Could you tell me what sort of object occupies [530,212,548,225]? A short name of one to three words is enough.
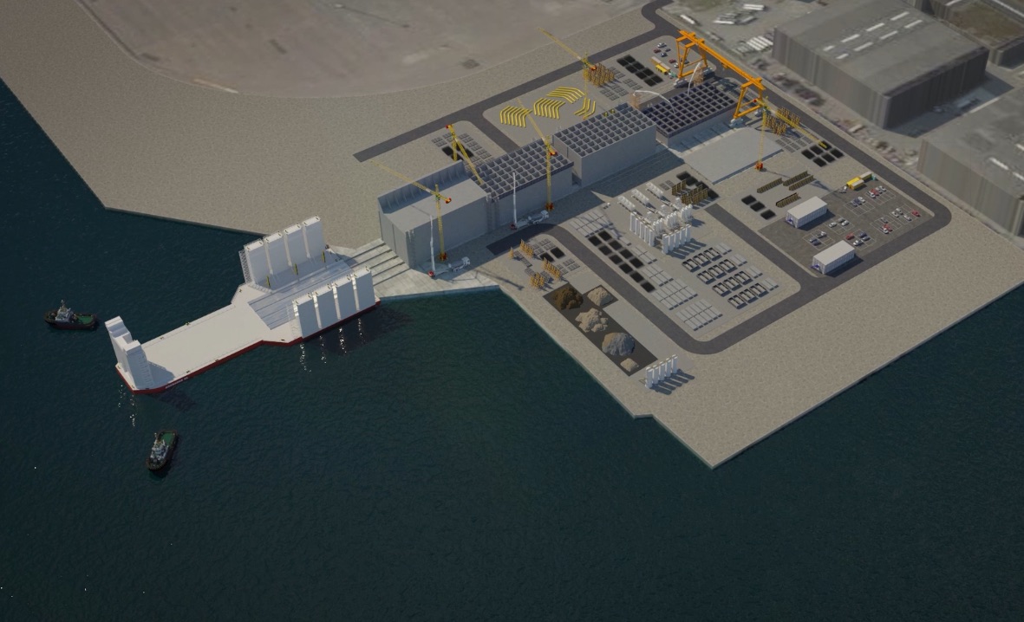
vehicle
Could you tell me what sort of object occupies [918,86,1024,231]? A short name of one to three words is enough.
building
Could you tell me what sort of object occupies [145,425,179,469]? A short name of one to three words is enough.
boat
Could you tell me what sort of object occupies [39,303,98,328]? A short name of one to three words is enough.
boat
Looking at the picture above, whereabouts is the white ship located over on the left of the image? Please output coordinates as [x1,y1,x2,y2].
[103,215,381,395]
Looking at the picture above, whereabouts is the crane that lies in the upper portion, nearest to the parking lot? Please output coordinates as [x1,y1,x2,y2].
[752,95,829,168]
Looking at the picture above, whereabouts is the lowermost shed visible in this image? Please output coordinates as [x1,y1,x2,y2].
[812,240,857,274]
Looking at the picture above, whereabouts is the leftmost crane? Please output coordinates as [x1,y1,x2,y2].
[370,159,452,261]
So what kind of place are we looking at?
port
